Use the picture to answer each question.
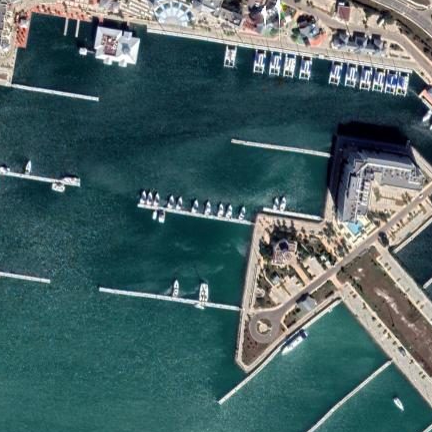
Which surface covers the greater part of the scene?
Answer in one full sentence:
The bulk of the photo consists of water.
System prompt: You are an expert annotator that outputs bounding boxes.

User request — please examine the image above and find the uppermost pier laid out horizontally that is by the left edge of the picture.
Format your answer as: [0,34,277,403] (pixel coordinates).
[10,83,100,101]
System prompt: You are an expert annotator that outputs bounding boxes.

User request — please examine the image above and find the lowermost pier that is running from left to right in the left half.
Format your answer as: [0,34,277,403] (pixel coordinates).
[98,287,242,311]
